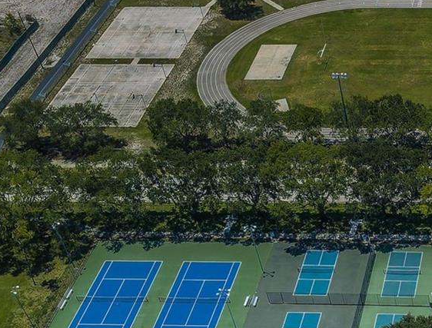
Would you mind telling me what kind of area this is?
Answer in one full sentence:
This image shows a sports ground.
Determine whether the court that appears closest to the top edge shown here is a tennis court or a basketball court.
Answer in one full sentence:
It turns out the court that appears closest to the top edge is a basketball court.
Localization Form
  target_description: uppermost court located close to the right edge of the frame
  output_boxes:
[382,251,422,297]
